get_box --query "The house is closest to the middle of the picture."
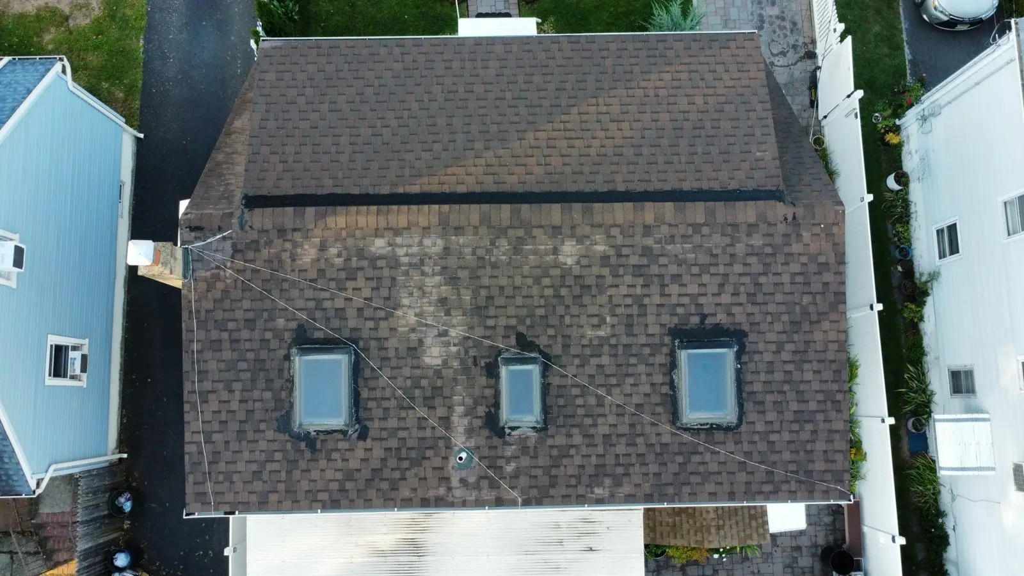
[127,27,853,520]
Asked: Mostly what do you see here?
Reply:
buildings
